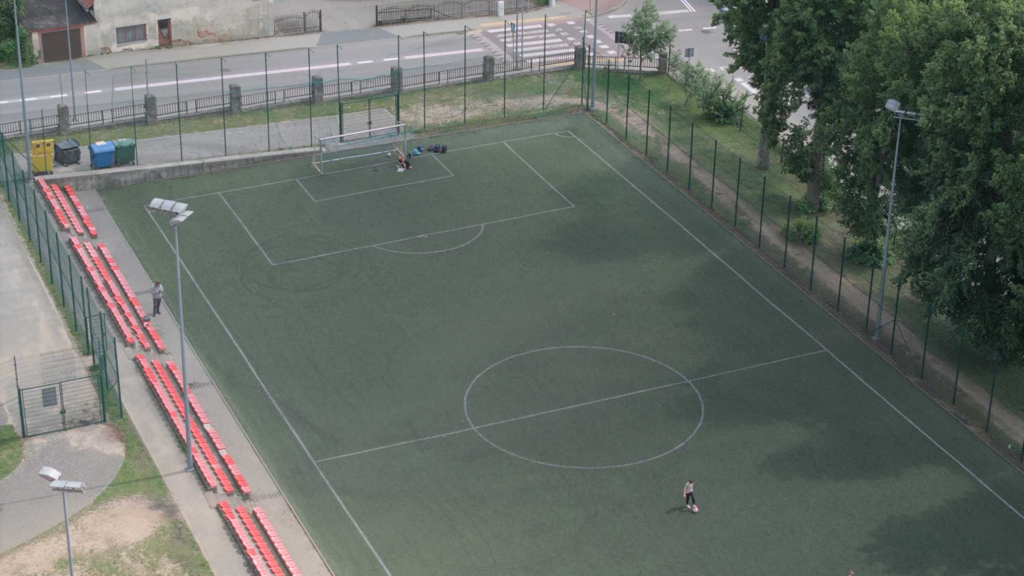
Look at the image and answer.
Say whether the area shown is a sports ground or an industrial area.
sports ground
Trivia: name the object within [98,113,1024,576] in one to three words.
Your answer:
sports field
